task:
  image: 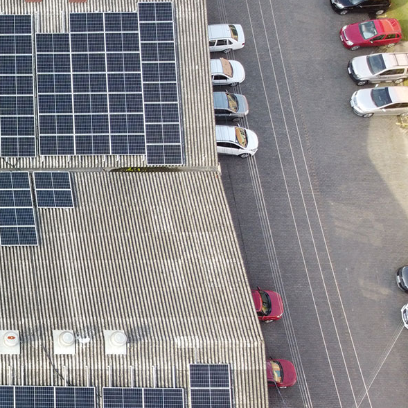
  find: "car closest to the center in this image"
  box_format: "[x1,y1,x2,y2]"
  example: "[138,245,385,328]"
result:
[215,123,259,158]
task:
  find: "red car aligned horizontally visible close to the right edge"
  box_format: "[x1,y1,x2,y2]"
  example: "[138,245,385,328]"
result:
[335,14,408,50]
